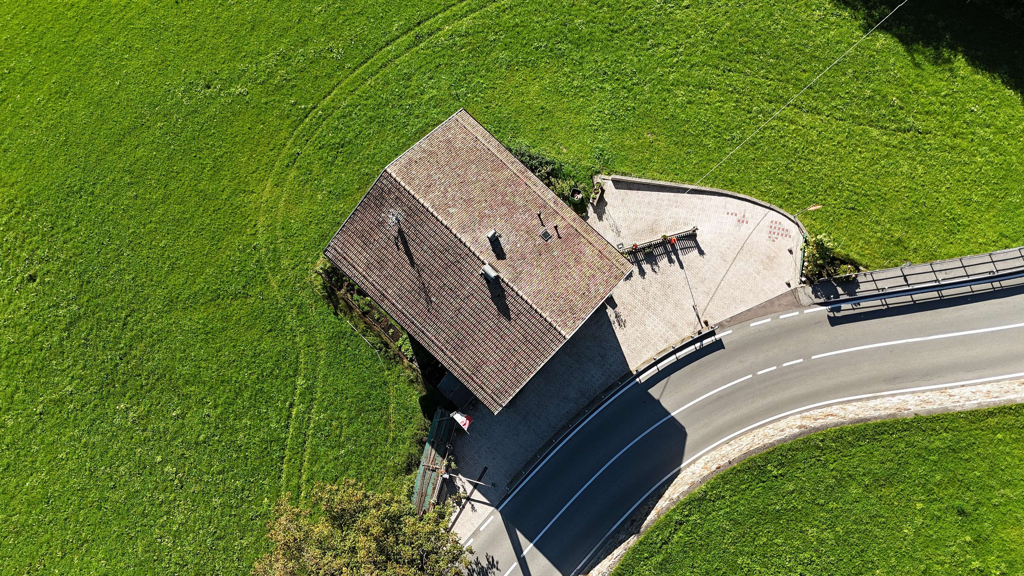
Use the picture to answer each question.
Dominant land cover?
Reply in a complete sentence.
For the most part, this view shows grass.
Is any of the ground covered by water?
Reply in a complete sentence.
No, no water is visible.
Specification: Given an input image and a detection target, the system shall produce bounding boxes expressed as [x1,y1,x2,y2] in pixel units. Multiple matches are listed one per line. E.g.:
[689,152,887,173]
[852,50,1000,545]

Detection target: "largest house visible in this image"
[323,107,633,416]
